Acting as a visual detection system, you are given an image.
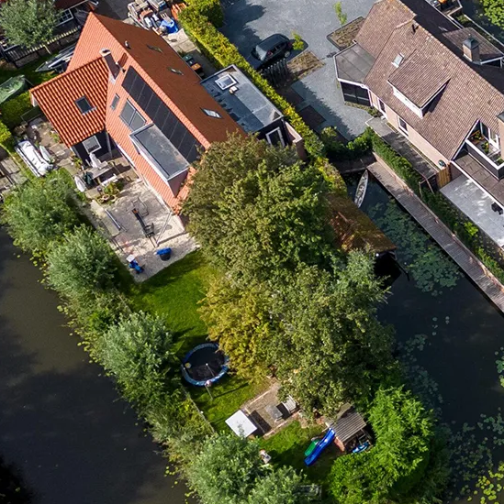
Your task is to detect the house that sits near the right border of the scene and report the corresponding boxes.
[333,0,504,229]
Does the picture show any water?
Yes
